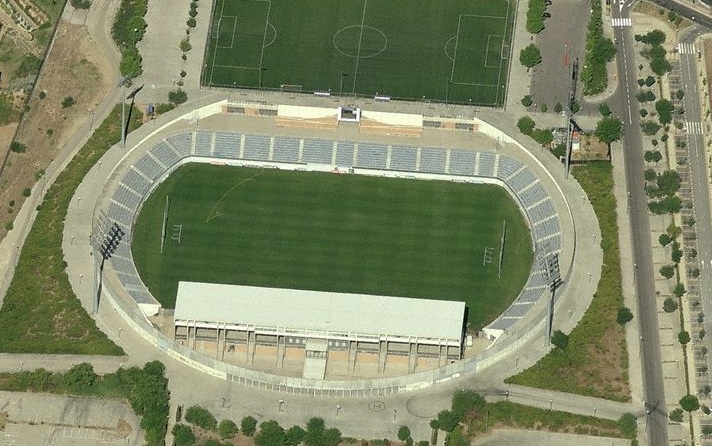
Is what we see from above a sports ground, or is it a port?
sports ground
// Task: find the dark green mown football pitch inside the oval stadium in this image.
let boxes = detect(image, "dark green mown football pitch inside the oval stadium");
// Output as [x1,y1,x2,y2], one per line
[133,159,536,330]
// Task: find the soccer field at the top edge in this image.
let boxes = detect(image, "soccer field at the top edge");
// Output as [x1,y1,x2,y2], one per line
[202,0,517,109]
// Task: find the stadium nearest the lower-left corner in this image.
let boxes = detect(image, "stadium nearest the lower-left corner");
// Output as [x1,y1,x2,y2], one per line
[92,98,578,397]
